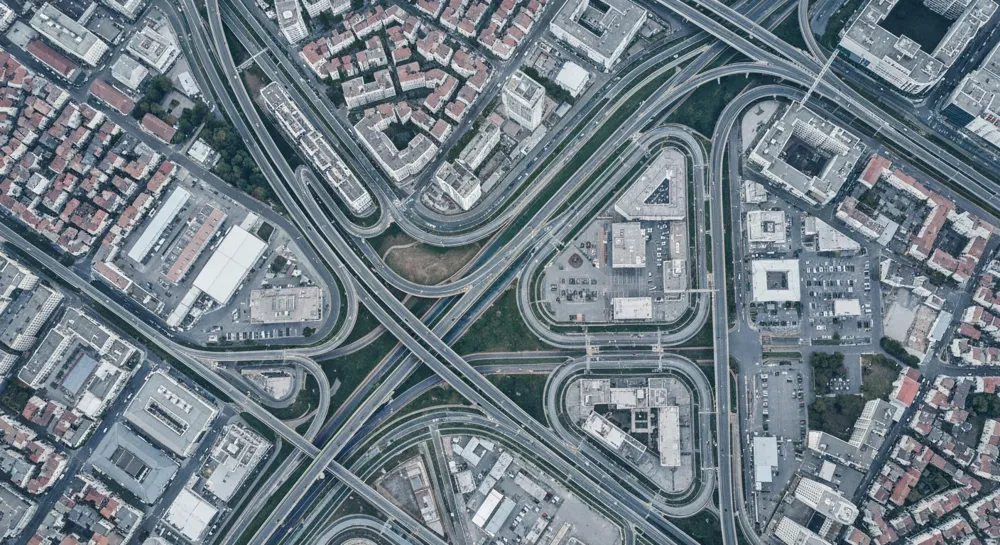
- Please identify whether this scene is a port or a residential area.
residential area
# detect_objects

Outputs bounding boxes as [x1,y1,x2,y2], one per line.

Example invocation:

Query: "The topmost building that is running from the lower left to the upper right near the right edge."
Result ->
[942,34,1000,121]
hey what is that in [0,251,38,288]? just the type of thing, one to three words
building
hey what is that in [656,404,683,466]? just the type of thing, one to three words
building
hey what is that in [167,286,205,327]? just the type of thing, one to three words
shed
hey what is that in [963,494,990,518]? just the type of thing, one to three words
house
